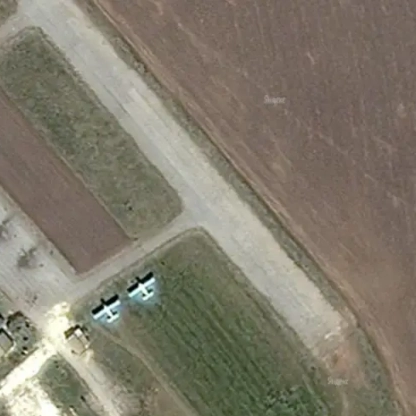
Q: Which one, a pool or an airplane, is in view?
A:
airplane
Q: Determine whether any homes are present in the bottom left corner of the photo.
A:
Yes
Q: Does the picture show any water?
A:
No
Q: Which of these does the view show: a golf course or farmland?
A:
farmland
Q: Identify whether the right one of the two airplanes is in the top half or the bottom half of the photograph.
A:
bottom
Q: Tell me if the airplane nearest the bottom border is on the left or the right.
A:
left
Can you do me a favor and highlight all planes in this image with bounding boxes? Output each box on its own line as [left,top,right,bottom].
[129,280,156,303]
[94,301,120,324]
